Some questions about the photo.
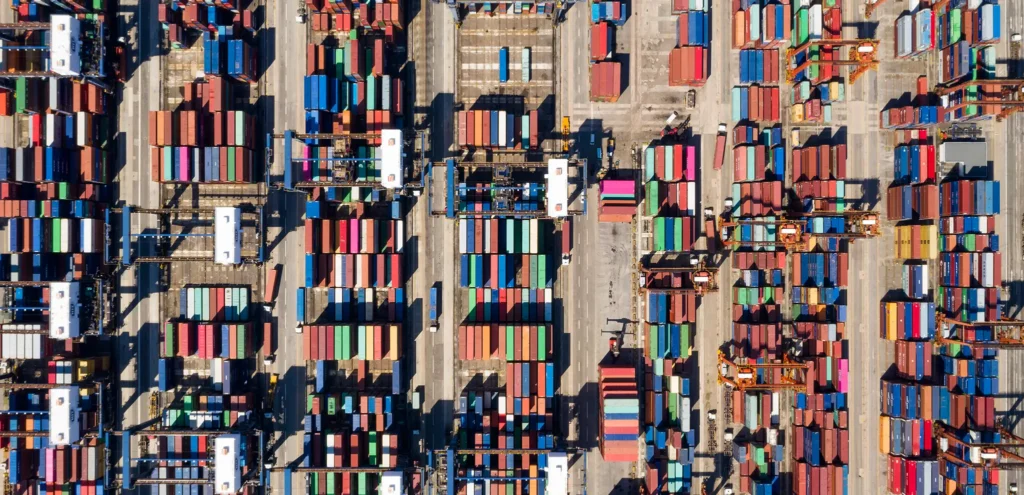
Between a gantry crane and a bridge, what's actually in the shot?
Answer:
gantry crane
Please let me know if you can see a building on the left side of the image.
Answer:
No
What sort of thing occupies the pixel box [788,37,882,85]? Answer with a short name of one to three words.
container crane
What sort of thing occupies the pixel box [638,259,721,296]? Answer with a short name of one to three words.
container crane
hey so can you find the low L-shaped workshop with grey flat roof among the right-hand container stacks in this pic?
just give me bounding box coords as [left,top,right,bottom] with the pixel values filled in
[939,142,987,177]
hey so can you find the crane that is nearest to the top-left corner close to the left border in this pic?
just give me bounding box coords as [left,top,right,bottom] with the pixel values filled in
[0,13,107,85]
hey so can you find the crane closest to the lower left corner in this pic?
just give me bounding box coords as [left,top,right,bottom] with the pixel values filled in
[0,367,107,446]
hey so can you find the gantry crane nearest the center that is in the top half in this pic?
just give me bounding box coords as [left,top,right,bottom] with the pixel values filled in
[426,157,585,228]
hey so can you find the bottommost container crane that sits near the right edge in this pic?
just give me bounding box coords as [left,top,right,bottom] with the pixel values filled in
[936,422,1024,468]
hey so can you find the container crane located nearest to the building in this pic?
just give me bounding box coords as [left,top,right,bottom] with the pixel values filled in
[934,76,1024,122]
